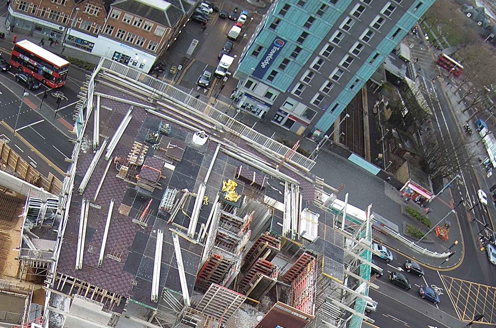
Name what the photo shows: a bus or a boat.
bus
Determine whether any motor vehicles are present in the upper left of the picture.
Yes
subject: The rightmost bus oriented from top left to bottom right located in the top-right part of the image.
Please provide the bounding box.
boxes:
[437,52,466,77]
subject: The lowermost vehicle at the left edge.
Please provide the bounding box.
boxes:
[15,72,42,88]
